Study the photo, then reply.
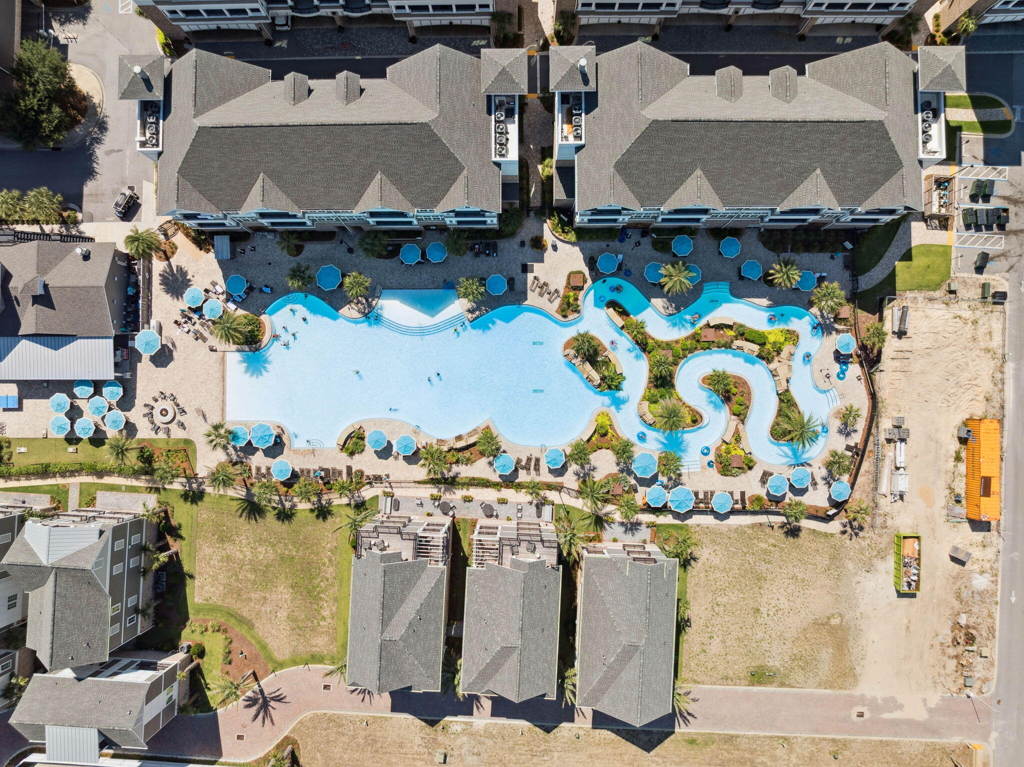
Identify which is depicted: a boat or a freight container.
freight container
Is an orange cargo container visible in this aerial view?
Yes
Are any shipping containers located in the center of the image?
No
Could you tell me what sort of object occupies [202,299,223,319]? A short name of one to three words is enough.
umbrella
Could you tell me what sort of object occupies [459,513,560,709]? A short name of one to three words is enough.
house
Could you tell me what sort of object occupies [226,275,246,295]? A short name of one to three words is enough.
umbrella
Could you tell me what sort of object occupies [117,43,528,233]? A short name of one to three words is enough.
building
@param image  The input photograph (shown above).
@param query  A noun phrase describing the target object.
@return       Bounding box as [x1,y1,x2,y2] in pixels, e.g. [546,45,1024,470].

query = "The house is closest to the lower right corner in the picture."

[571,533,679,728]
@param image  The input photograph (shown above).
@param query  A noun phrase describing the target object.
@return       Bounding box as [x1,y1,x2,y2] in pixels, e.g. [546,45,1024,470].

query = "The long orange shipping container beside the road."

[964,418,999,521]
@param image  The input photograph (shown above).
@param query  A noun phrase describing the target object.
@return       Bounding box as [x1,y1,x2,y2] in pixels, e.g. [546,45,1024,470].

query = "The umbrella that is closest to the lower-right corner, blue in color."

[828,480,851,502]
